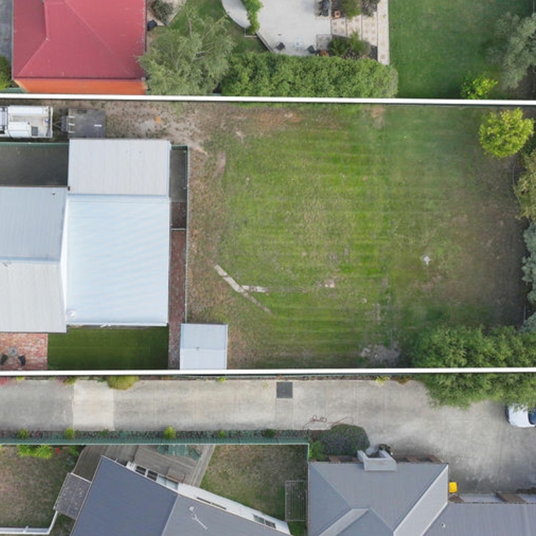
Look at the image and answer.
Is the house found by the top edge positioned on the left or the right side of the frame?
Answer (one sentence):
You can find the house found by the top edge on the left side of the picture.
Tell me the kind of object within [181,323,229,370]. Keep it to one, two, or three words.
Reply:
shed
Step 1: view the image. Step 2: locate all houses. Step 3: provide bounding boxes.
[306,449,536,536]
[12,0,150,94]
[54,450,292,536]
[0,184,173,334]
